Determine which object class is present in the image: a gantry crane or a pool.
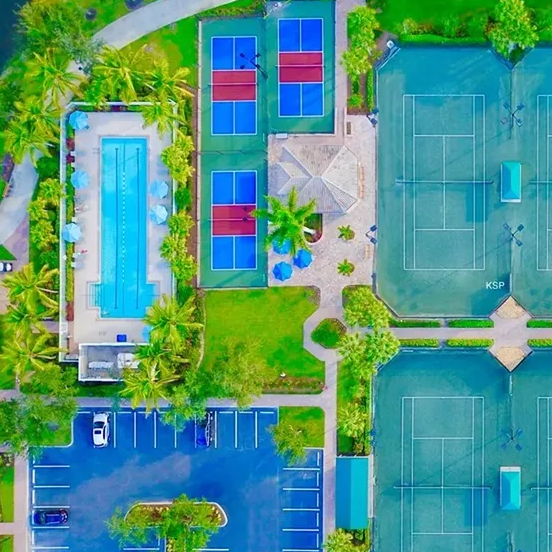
pool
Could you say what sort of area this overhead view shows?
sports ground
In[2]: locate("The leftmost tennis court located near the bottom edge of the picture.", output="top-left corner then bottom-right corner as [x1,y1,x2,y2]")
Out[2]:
[374,351,510,552]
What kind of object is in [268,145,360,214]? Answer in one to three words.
building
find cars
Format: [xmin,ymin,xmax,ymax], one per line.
[195,411,214,448]
[33,510,70,528]
[92,411,111,448]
